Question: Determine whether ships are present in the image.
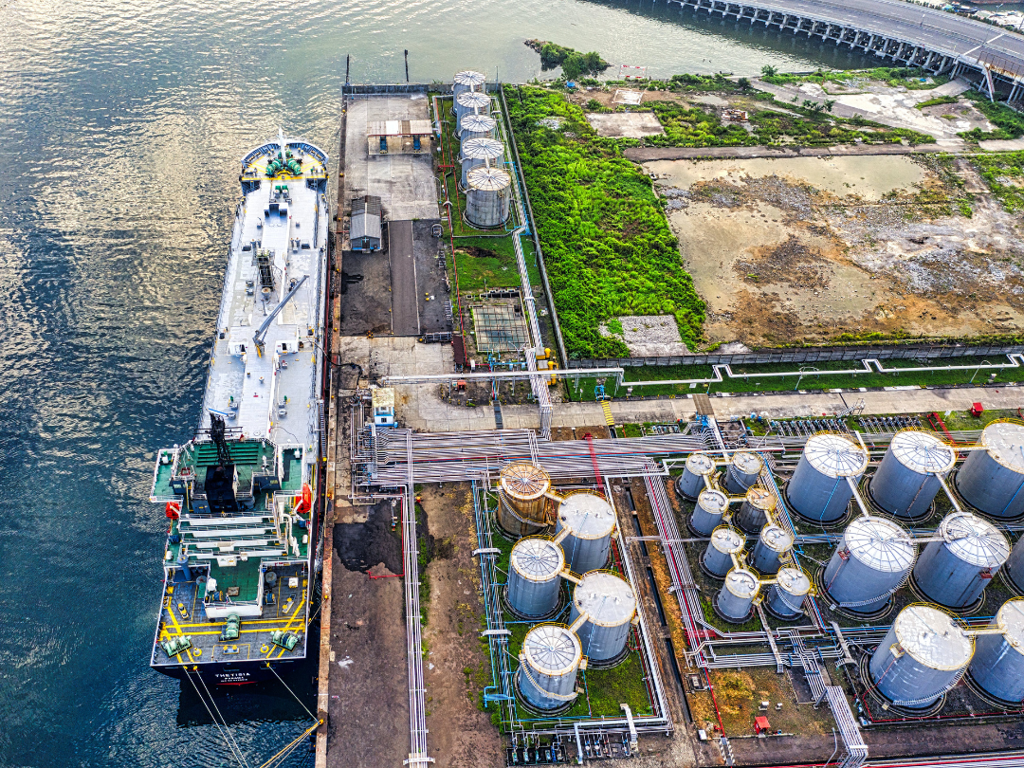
Yes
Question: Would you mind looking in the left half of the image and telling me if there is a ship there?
Yes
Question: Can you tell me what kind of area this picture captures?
industrial area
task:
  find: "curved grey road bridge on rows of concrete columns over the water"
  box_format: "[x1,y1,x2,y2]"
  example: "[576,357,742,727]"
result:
[604,0,1024,91]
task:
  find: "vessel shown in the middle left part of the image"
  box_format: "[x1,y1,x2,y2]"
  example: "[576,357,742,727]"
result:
[149,118,330,685]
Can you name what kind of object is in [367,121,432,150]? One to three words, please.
shed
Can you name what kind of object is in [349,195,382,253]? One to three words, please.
house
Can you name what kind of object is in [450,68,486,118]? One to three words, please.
storage tank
